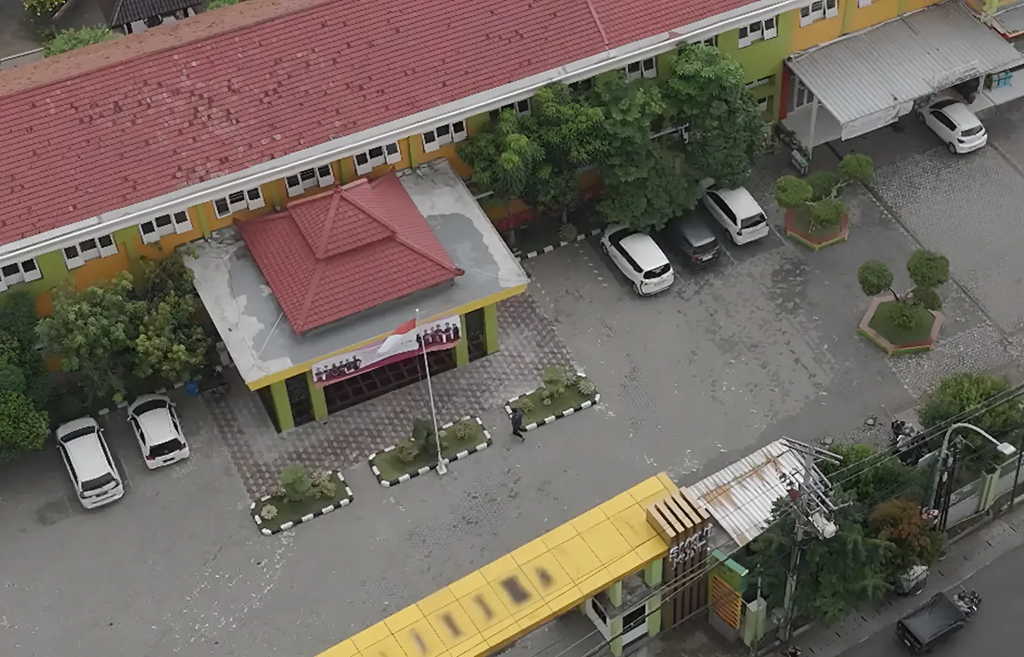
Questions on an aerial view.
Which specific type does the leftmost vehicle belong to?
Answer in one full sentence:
What you see as the leftmost vehicle is a car.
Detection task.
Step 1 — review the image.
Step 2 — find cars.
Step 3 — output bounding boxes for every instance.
[911,93,988,155]
[126,398,191,472]
[695,174,770,246]
[648,199,722,270]
[601,222,676,297]
[54,419,124,510]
